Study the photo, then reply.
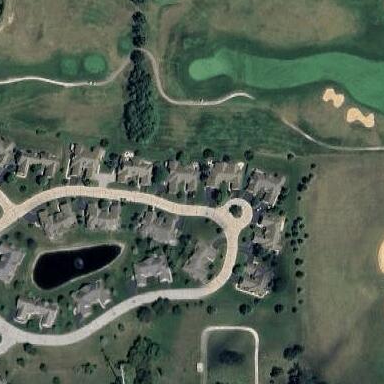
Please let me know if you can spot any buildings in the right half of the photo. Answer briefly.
Yes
